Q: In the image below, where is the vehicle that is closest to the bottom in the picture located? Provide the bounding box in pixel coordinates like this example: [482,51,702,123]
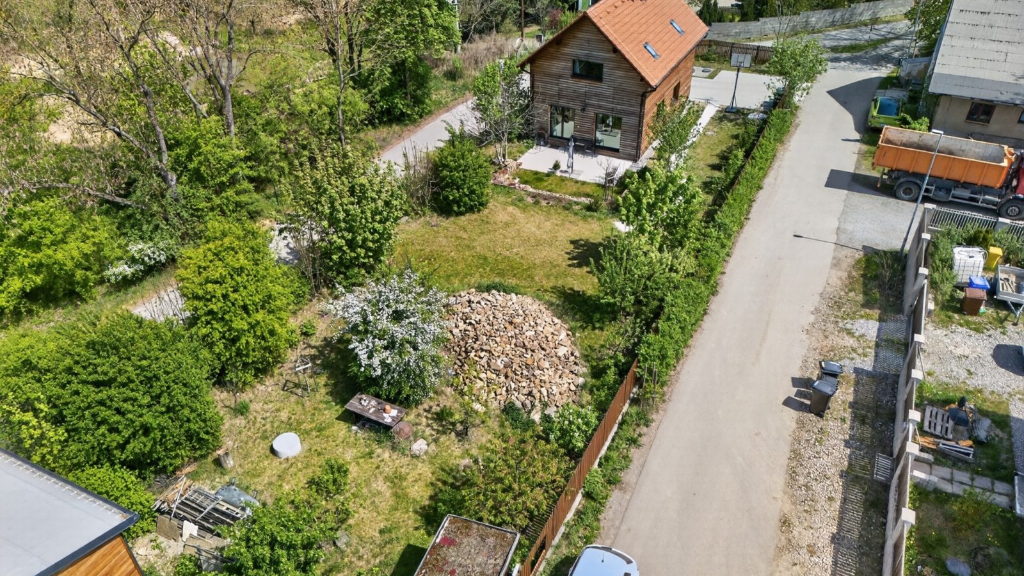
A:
[567,539,642,576]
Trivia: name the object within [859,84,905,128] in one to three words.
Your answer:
car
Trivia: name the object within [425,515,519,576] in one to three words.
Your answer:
shed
